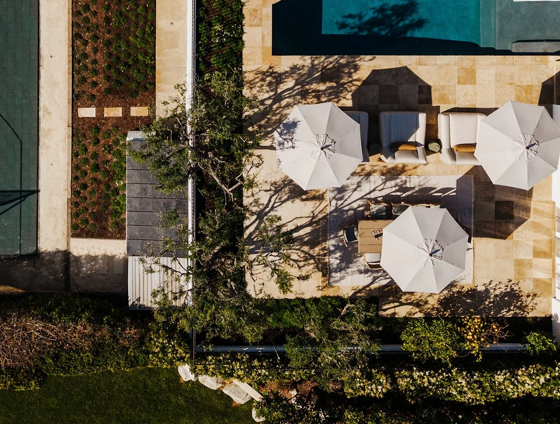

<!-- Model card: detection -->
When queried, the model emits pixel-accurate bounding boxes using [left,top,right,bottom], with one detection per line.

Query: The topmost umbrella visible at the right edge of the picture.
[474,101,560,192]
